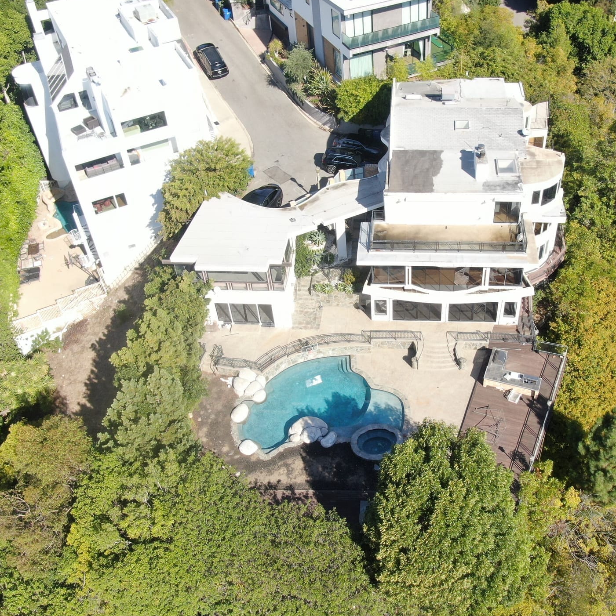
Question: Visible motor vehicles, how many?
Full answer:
There are 4 motor vehicles in the image.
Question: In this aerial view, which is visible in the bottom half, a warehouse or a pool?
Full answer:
The feature located in the bottom half is a pool.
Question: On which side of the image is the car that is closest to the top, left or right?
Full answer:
It is on the left.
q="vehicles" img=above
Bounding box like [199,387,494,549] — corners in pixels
[329,128,384,156]
[319,144,380,175]
[195,46,231,87]
[237,184,294,206]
